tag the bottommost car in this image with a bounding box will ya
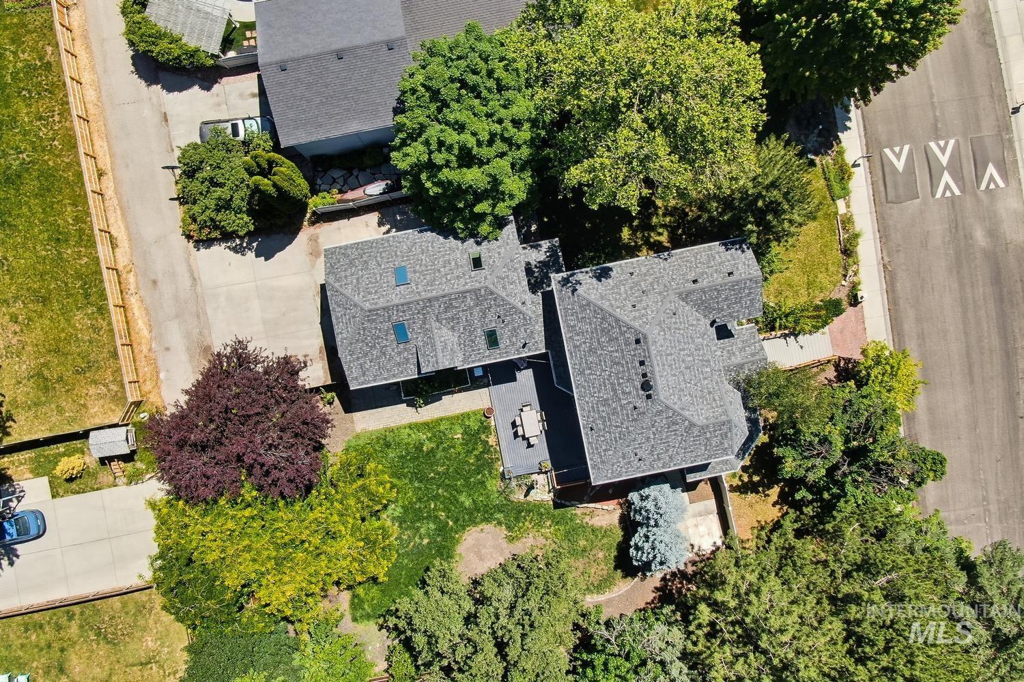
[0,507,52,546]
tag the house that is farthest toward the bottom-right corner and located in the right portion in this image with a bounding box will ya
[539,236,767,486]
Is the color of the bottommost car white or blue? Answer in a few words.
blue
